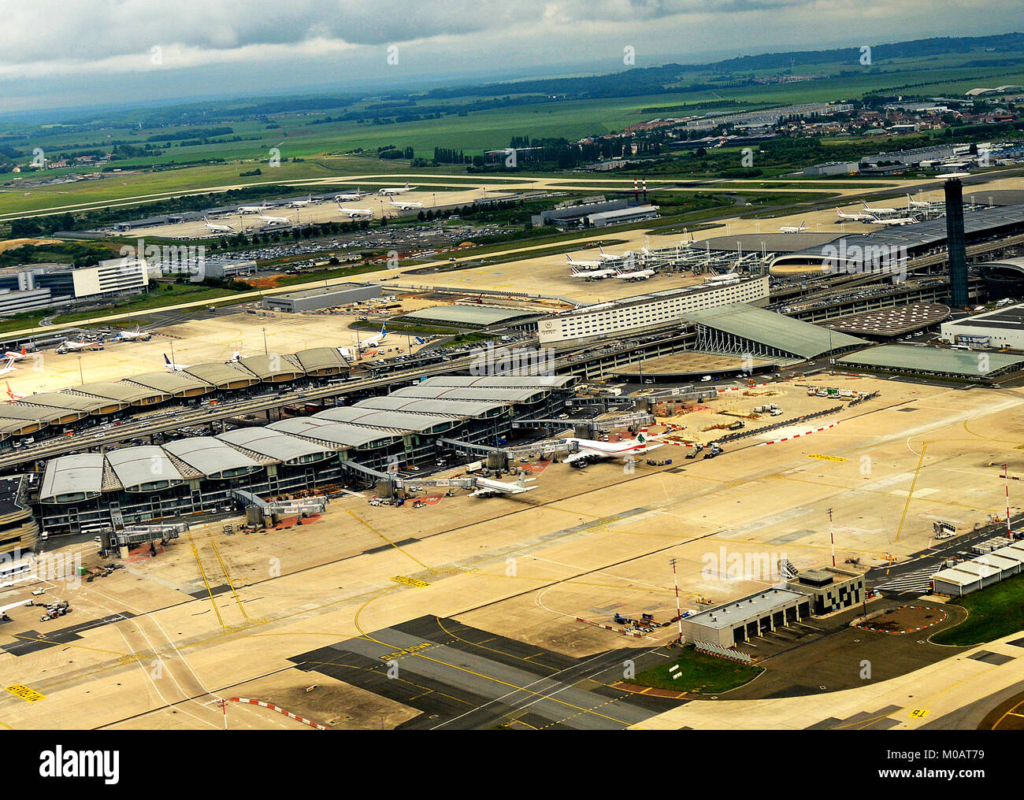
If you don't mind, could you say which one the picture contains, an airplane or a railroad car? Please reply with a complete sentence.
There is an airplane in the scene.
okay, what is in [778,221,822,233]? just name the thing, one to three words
airplane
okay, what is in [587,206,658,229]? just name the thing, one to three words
shed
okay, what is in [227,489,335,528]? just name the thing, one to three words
jet bridge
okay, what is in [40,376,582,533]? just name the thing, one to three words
building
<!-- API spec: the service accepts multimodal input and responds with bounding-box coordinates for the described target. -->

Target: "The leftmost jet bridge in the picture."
[97,508,195,555]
